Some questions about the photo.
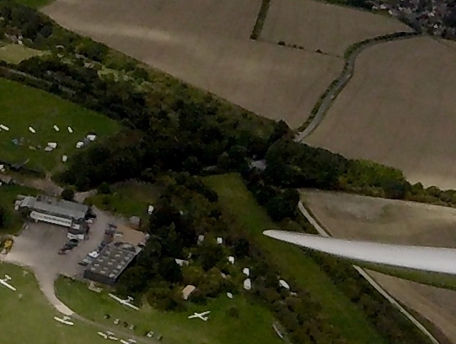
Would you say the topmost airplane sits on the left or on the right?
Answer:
right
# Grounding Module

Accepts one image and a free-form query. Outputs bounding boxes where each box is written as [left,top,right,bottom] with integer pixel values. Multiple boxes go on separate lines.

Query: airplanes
[54,315,74,326]
[0,274,14,288]
[97,330,117,339]
[264,230,456,275]
[188,312,210,320]
[109,293,138,311]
